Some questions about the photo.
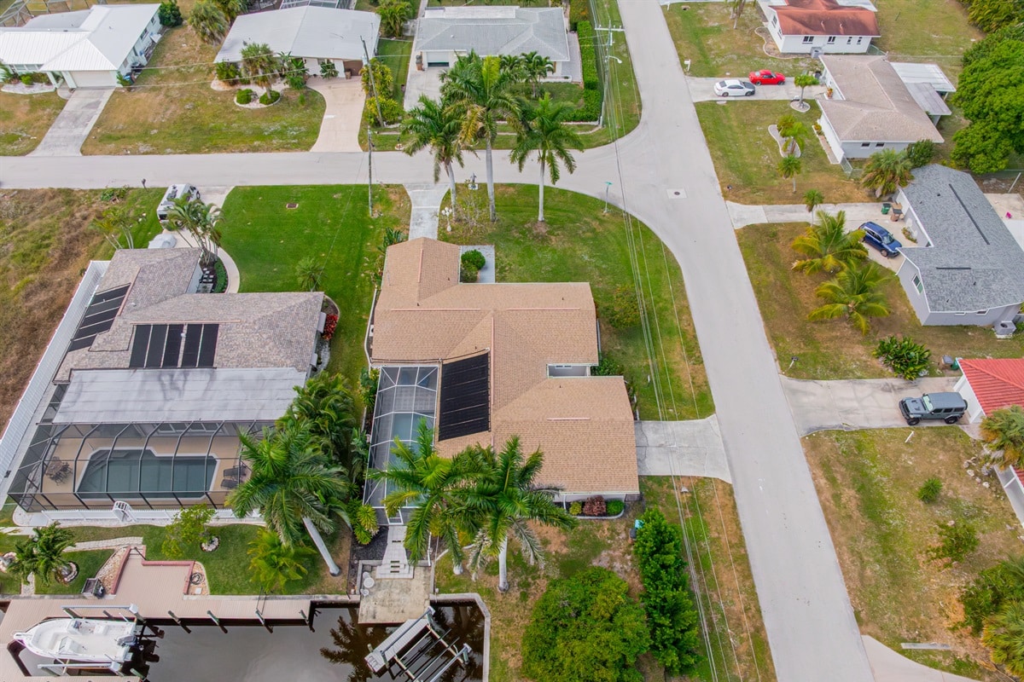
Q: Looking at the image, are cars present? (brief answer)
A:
Yes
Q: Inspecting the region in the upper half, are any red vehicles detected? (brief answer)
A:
Yes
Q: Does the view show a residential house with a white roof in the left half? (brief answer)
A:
Yes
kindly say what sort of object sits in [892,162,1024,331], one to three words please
house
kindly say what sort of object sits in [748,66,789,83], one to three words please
car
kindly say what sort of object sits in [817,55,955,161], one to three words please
house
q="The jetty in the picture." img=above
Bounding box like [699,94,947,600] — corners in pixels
[0,557,312,682]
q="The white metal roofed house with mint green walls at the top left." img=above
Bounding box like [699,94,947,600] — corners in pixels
[0,4,159,94]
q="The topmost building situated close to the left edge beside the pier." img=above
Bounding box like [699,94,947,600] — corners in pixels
[49,248,328,427]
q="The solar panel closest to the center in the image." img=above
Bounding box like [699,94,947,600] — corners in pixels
[374,350,492,441]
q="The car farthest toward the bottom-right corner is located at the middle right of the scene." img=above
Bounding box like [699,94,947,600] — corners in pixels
[901,391,973,424]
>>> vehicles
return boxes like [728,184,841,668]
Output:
[901,391,973,424]
[713,75,759,94]
[857,220,906,259]
[152,186,202,235]
[748,66,789,83]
